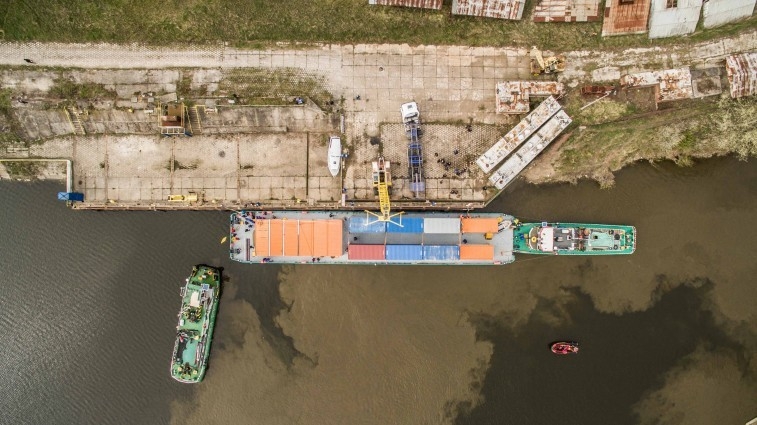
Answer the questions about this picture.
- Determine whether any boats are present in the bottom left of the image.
Yes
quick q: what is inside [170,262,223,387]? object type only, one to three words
boat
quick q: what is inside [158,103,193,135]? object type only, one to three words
house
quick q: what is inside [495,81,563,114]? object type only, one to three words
shed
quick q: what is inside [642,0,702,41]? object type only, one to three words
shed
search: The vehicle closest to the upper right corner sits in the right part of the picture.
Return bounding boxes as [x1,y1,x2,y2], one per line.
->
[529,47,564,77]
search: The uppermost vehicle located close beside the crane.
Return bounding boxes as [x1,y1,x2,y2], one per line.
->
[401,100,422,149]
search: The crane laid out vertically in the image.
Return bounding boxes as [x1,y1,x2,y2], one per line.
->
[367,157,396,220]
